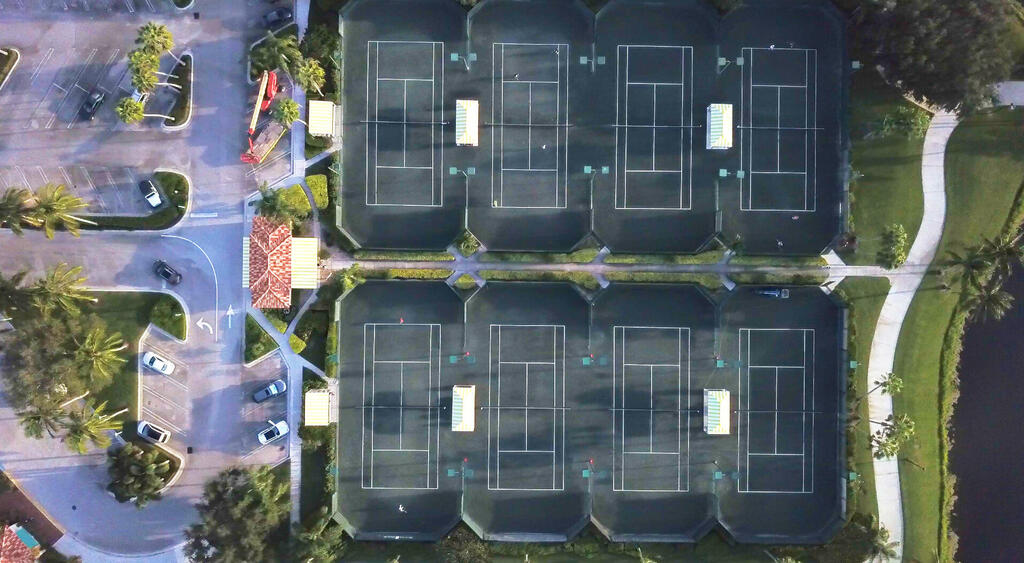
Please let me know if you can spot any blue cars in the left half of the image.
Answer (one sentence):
Yes, a blue car can be seen in the left half of the image.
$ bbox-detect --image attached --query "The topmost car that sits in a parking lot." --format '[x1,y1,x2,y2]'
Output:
[260,7,294,28]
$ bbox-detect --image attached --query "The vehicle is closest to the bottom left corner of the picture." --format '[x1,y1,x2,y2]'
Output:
[138,421,172,445]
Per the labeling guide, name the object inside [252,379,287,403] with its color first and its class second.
blue car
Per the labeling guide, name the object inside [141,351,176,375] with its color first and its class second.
white car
